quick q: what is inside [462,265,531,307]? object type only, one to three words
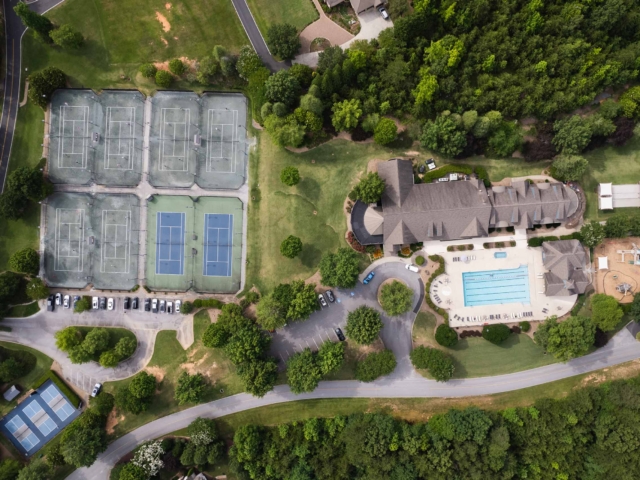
swimming pool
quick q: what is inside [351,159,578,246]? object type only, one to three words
building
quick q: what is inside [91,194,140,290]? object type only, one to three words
tennis court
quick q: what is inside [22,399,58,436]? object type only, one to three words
sports court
